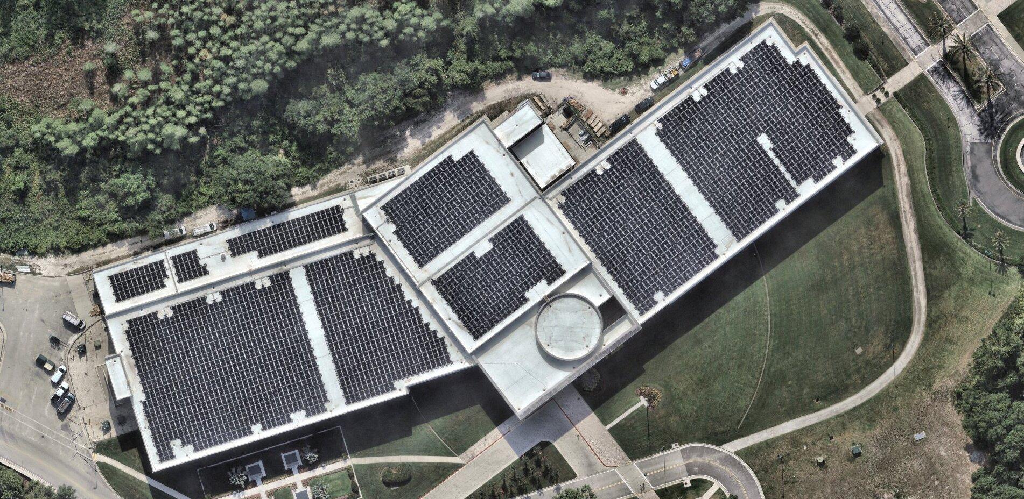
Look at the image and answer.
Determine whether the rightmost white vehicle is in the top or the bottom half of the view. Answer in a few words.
top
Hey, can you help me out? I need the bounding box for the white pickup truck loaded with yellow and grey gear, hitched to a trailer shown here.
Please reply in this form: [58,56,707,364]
[650,70,678,90]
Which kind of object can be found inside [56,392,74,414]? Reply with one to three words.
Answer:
vehicle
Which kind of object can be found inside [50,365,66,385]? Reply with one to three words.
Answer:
car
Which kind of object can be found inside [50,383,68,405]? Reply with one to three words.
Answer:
vehicle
